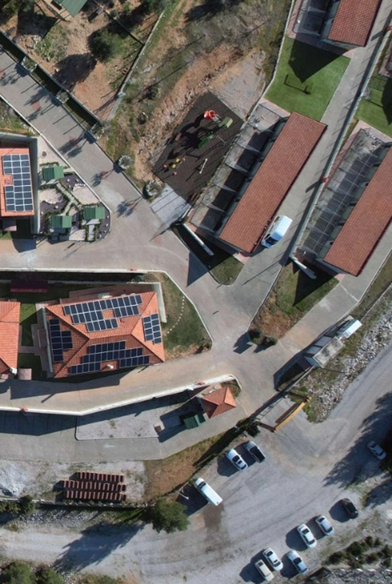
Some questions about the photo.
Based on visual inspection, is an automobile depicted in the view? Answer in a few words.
Yes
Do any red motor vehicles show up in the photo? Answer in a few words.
No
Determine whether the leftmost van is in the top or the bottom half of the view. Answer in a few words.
bottom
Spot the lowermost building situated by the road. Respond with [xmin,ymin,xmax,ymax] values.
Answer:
[189,382,237,420]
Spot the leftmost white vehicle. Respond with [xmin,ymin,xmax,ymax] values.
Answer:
[195,476,231,513]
